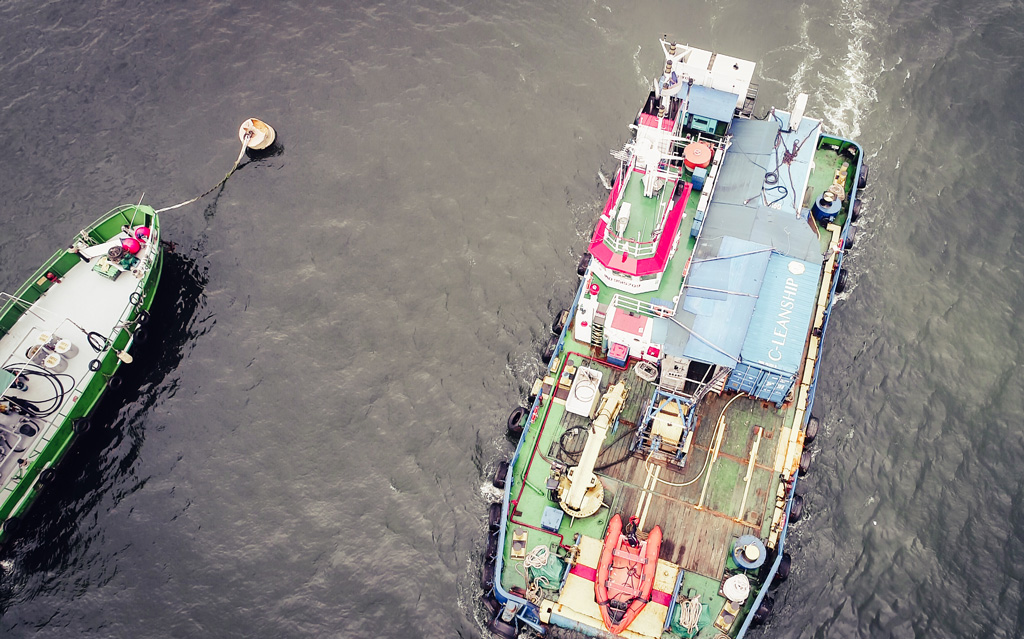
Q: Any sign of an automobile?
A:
No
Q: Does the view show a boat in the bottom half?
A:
Yes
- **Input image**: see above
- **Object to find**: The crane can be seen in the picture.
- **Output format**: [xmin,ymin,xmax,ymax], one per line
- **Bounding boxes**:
[552,373,635,524]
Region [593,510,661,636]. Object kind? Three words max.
boat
